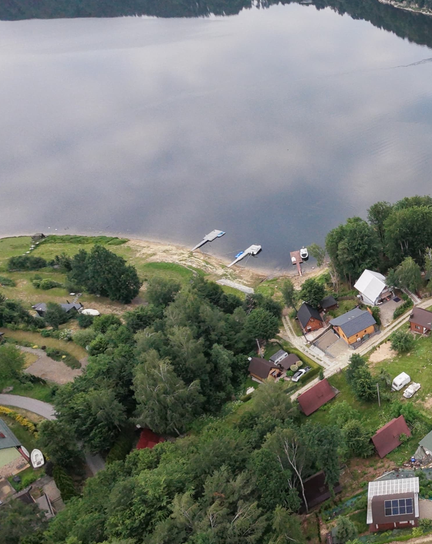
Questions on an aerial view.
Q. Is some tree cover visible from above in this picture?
Yes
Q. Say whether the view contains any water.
Yes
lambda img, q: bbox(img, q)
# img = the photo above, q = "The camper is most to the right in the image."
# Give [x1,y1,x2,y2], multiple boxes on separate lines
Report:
[392,372,410,391]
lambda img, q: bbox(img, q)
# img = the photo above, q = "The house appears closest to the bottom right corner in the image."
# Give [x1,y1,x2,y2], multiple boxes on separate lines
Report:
[369,475,417,531]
